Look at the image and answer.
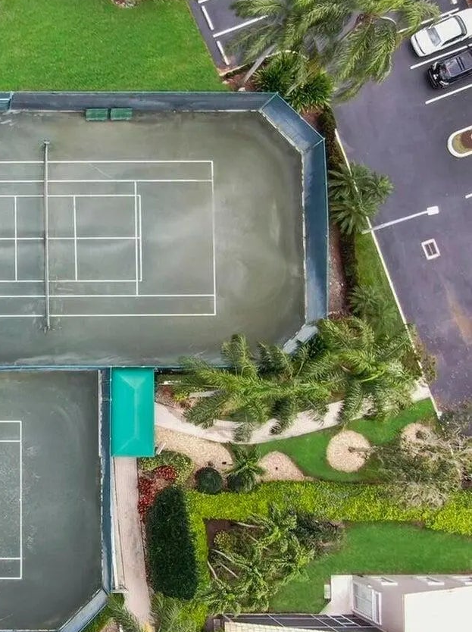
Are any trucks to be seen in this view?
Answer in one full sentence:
No, I find no truck anywhere in the image.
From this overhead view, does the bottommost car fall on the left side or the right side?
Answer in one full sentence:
The bottommost car sits on the right side.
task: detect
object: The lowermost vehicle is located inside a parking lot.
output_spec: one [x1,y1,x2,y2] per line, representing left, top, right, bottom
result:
[428,47,472,88]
